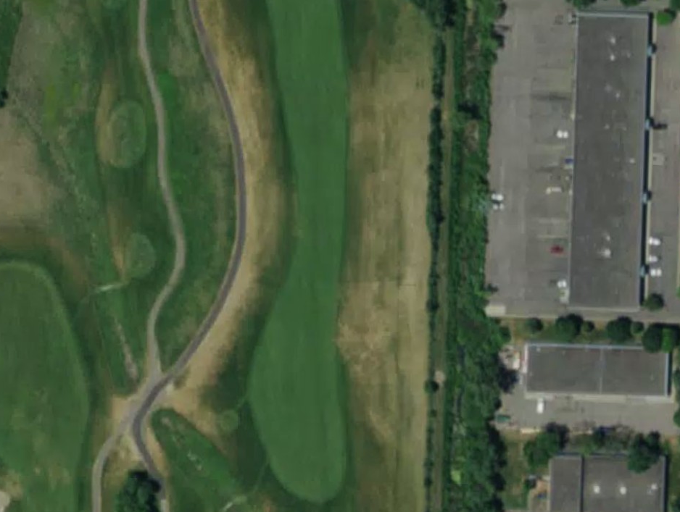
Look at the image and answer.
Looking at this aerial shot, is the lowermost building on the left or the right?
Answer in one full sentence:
The lowermost building appears in the right half of the scene.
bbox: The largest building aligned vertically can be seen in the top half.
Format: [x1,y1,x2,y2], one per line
[566,14,655,312]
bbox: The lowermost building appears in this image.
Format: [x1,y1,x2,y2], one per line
[549,454,665,512]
